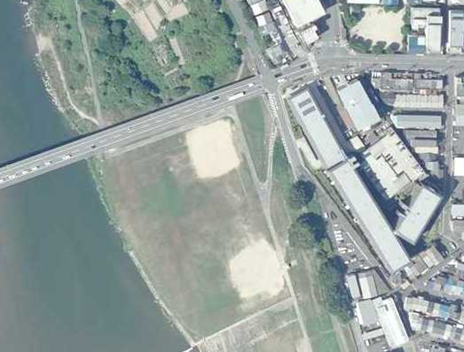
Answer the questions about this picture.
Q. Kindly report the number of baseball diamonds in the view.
2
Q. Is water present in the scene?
Yes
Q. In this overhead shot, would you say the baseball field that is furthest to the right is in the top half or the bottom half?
bottom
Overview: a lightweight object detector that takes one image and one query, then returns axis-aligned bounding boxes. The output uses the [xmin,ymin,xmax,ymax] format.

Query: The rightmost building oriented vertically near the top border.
[446,10,464,49]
